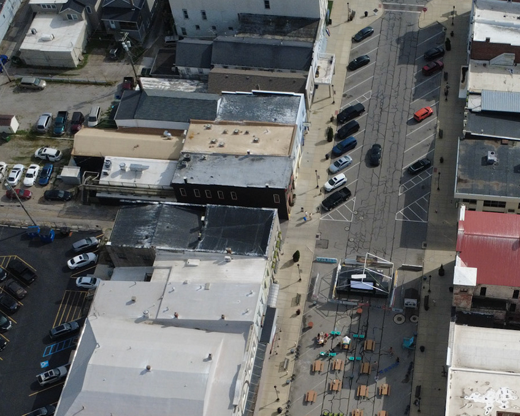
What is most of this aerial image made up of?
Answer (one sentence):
The bulk of the photo consists of buildings.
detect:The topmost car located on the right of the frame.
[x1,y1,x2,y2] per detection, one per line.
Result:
[352,28,375,43]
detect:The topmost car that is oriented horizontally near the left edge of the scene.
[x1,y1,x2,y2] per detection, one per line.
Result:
[18,76,47,91]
